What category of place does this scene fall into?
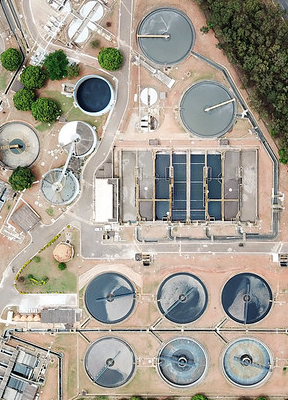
industrial area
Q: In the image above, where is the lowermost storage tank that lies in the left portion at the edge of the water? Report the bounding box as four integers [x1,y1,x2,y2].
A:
[84,335,137,389]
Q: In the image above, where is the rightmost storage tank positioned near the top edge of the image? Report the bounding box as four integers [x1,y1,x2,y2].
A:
[135,6,196,66]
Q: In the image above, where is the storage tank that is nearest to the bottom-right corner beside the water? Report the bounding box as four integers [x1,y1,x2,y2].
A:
[220,334,273,388]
